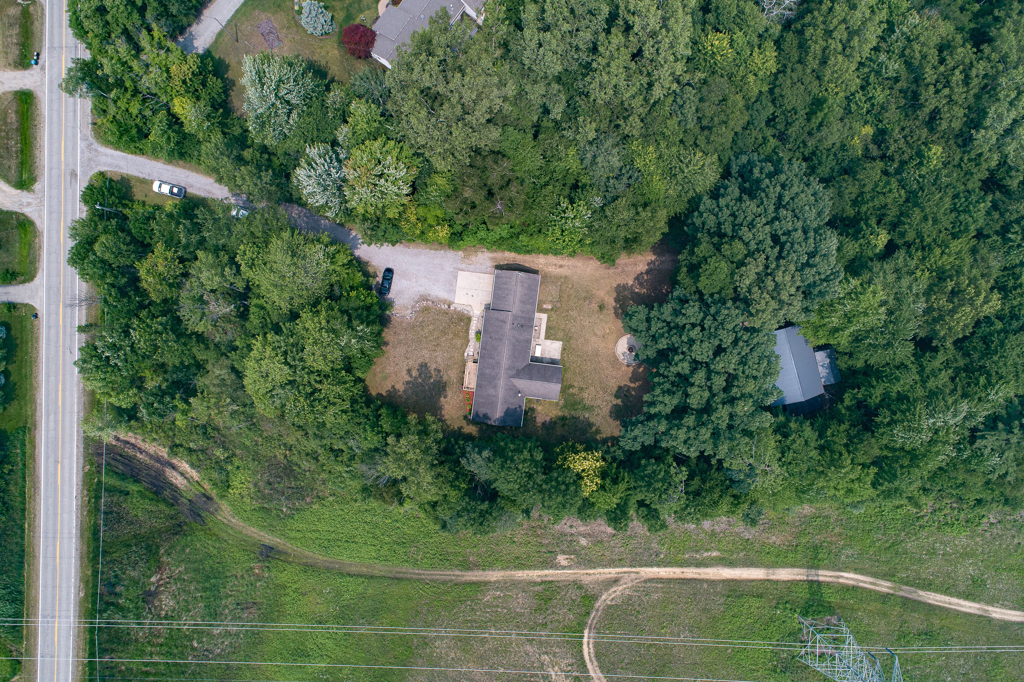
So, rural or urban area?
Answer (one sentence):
The area shown here is rural.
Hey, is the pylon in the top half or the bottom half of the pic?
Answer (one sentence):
The pylon is in the bottom half of the image.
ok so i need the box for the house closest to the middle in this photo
[471,269,563,428]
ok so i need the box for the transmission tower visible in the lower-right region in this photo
[797,615,903,682]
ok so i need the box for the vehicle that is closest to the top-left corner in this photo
[153,181,188,197]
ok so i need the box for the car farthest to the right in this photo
[380,267,395,297]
